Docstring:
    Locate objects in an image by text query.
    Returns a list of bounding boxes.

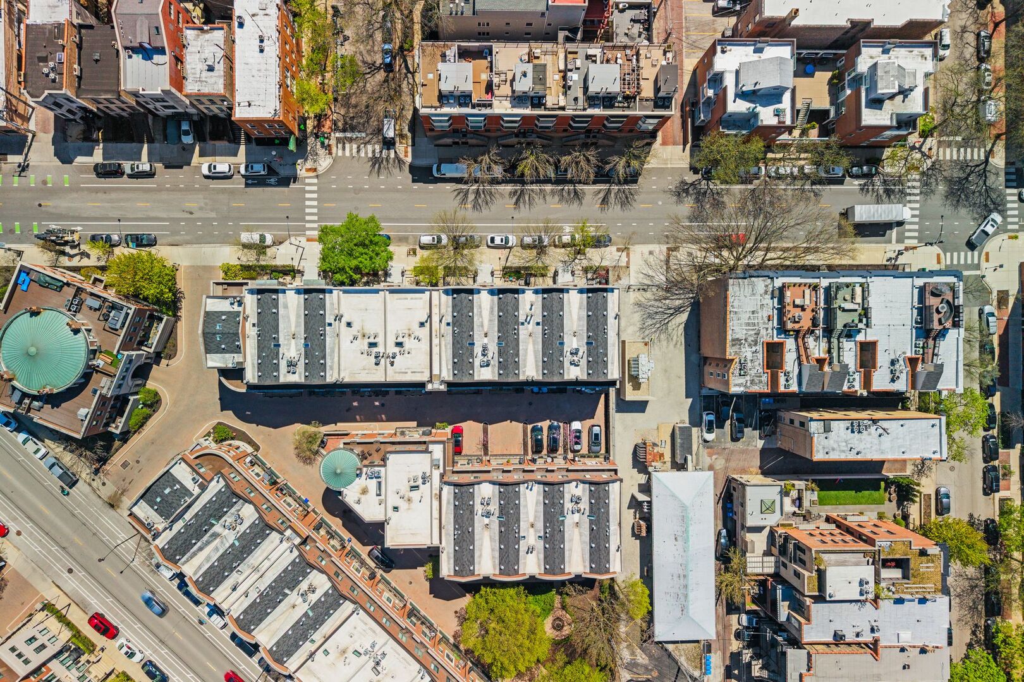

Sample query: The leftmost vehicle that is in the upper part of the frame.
[27,227,77,243]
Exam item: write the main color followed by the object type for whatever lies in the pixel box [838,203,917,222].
white vehicle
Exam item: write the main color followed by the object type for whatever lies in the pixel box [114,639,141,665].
white car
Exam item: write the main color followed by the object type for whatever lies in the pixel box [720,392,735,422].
black car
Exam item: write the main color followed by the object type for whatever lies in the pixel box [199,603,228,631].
white car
